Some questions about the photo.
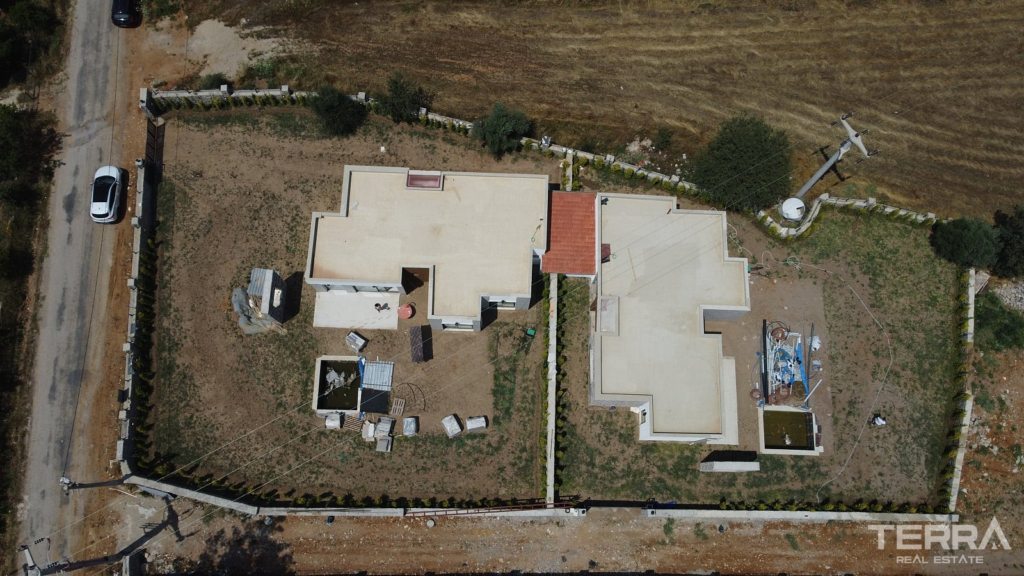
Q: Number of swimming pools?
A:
2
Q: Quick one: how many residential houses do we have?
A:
2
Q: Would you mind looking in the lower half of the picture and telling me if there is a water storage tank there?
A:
No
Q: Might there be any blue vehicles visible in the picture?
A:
No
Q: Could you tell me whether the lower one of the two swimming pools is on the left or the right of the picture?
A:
right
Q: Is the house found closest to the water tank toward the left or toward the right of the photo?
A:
right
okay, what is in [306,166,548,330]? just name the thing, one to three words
house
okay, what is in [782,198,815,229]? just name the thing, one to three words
water tank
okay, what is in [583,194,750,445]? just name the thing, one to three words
house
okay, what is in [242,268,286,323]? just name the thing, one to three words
shed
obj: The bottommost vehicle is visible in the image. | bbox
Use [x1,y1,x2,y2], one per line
[88,167,123,222]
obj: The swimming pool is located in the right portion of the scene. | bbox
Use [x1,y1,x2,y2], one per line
[757,406,821,456]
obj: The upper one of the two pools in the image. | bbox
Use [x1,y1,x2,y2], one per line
[313,356,362,412]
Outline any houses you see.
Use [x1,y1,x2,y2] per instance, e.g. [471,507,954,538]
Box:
[306,166,548,330]
[583,194,750,445]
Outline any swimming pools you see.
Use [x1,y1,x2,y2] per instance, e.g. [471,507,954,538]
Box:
[757,406,821,456]
[313,356,362,412]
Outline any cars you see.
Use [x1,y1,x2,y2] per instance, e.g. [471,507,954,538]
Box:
[88,167,123,222]
[108,0,137,23]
